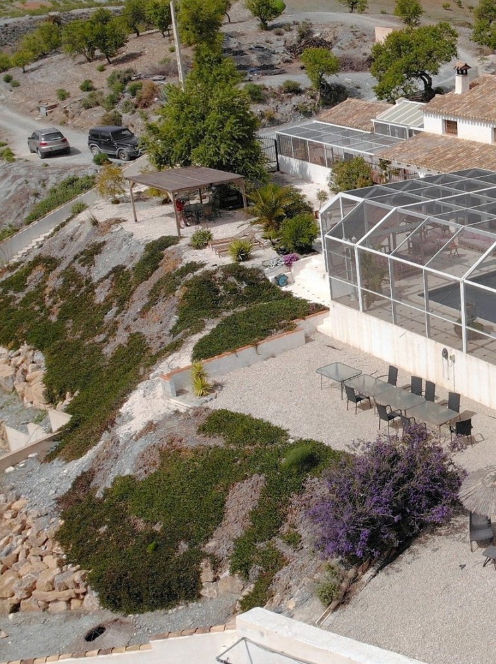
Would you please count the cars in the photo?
2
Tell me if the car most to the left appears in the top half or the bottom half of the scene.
top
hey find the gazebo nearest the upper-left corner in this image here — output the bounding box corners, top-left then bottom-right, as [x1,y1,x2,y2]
[124,166,249,235]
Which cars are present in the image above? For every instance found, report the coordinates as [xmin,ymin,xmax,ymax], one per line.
[91,118,155,160]
[7,120,77,155]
